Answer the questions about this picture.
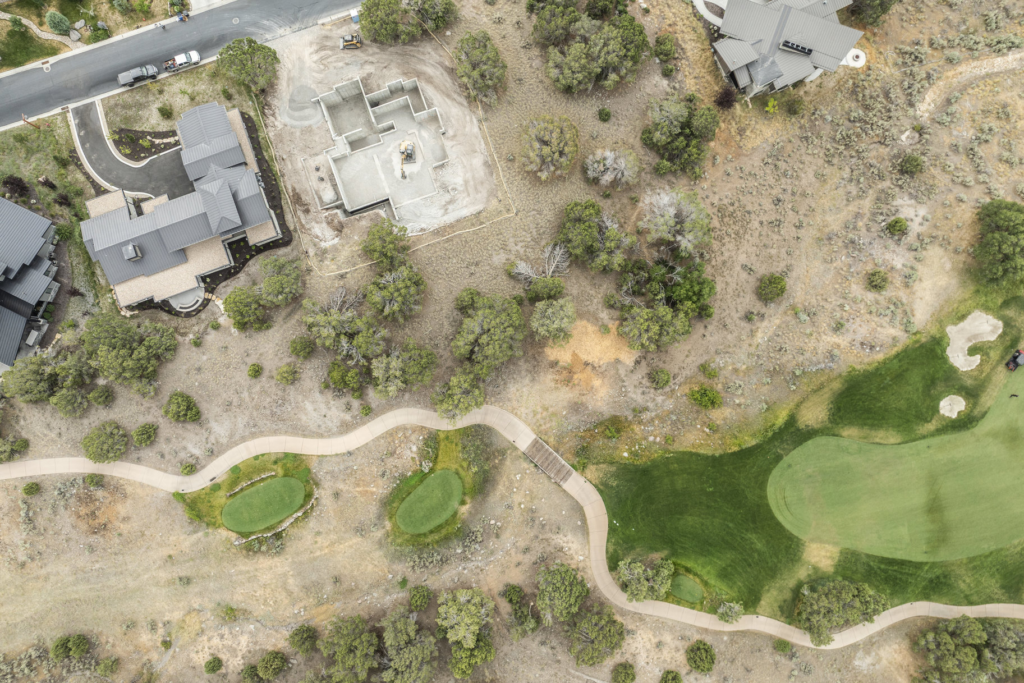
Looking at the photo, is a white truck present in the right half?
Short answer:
No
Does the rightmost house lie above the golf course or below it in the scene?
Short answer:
above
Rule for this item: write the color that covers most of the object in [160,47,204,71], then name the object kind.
white truck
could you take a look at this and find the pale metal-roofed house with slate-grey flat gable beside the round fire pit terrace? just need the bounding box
[705,0,863,99]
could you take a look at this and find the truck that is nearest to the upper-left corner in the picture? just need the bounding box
[112,63,158,87]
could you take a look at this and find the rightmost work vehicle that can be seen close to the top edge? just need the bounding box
[340,32,362,49]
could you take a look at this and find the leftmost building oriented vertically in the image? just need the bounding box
[0,197,73,367]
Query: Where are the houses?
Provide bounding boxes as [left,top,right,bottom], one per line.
[0,197,73,367]
[80,102,286,308]
[705,0,863,99]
